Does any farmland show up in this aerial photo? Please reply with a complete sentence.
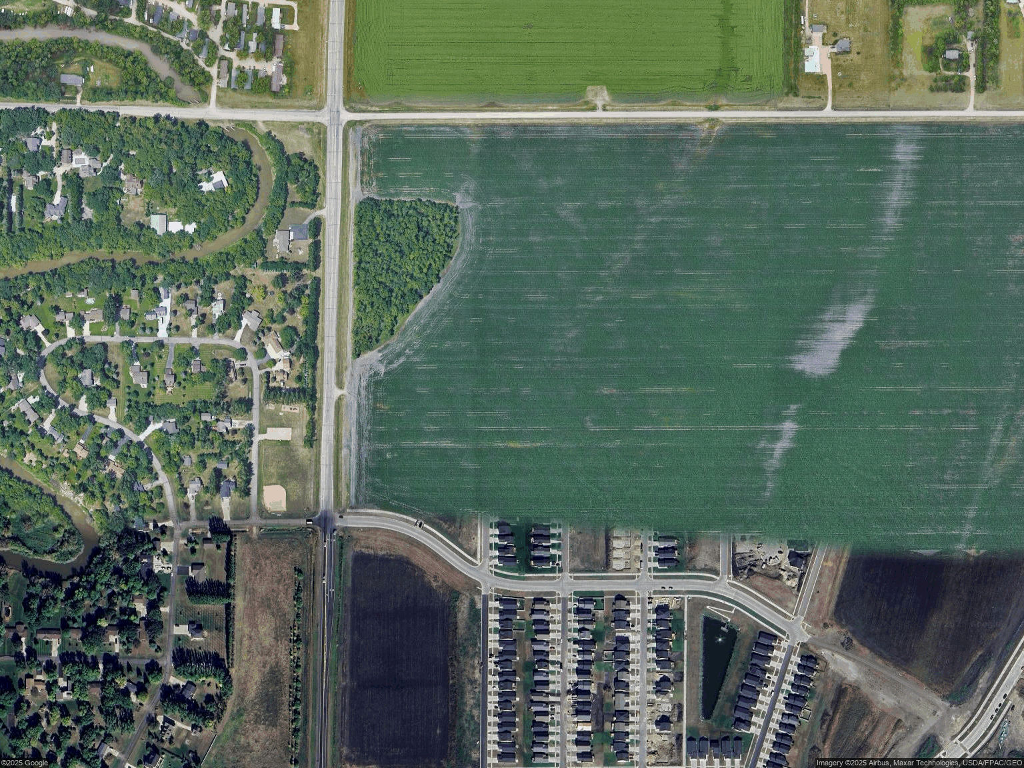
Yes, farmland shows up in the scene.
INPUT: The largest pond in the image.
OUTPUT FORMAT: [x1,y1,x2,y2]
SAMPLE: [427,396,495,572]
[702,614,737,721]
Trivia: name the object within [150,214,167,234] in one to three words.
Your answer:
building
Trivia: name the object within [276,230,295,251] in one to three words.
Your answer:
house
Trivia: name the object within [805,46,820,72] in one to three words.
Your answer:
building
